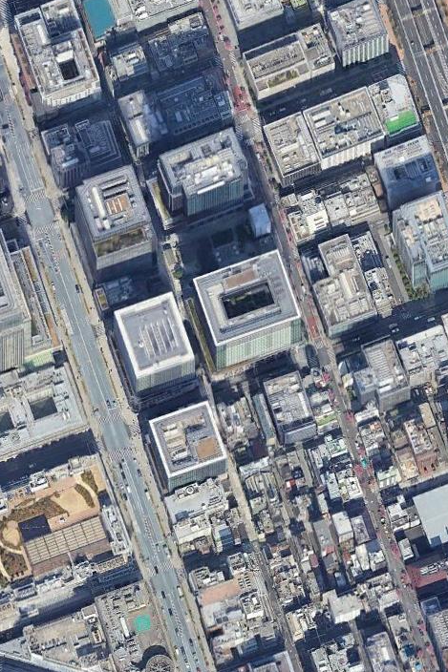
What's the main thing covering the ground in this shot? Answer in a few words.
buildings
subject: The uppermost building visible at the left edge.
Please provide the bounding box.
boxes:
[15,0,101,113]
